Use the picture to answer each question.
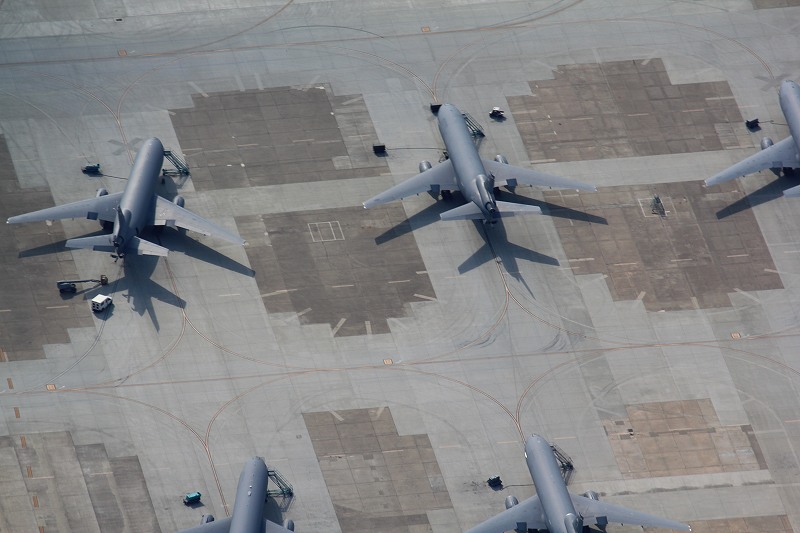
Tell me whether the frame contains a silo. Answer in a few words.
No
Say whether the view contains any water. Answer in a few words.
No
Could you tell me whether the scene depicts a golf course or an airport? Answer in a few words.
airport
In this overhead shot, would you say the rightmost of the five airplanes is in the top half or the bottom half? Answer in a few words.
top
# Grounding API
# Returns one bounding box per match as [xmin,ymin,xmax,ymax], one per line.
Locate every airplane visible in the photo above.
[466,435,691,533]
[705,82,800,199]
[363,104,597,228]
[184,458,295,533]
[8,138,244,262]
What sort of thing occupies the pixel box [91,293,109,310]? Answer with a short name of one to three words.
vehicle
